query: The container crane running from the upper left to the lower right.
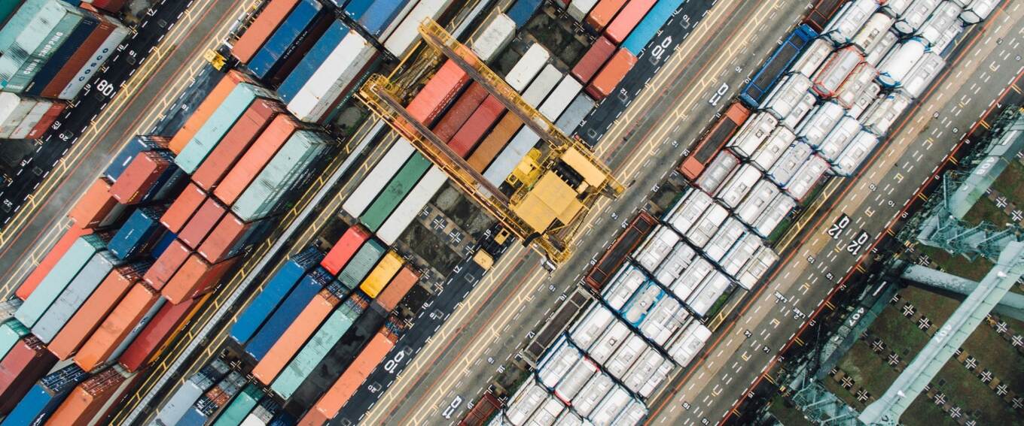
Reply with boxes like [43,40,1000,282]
[355,4,634,264]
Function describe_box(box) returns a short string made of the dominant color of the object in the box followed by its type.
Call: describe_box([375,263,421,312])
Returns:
red shipping container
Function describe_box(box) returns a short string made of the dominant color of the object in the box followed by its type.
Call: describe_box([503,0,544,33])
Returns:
blue shipping container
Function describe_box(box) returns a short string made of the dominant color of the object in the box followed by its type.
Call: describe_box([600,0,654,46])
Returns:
pink shipping container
